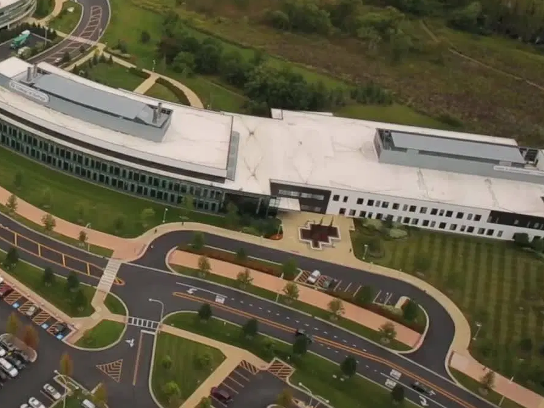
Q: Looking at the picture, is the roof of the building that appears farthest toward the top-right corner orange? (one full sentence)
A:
No, the color of the roof of the building that appears farthest toward the top-right corner is white.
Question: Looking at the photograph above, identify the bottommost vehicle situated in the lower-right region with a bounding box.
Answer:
[411,381,434,398]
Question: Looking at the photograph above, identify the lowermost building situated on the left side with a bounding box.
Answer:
[0,56,270,221]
